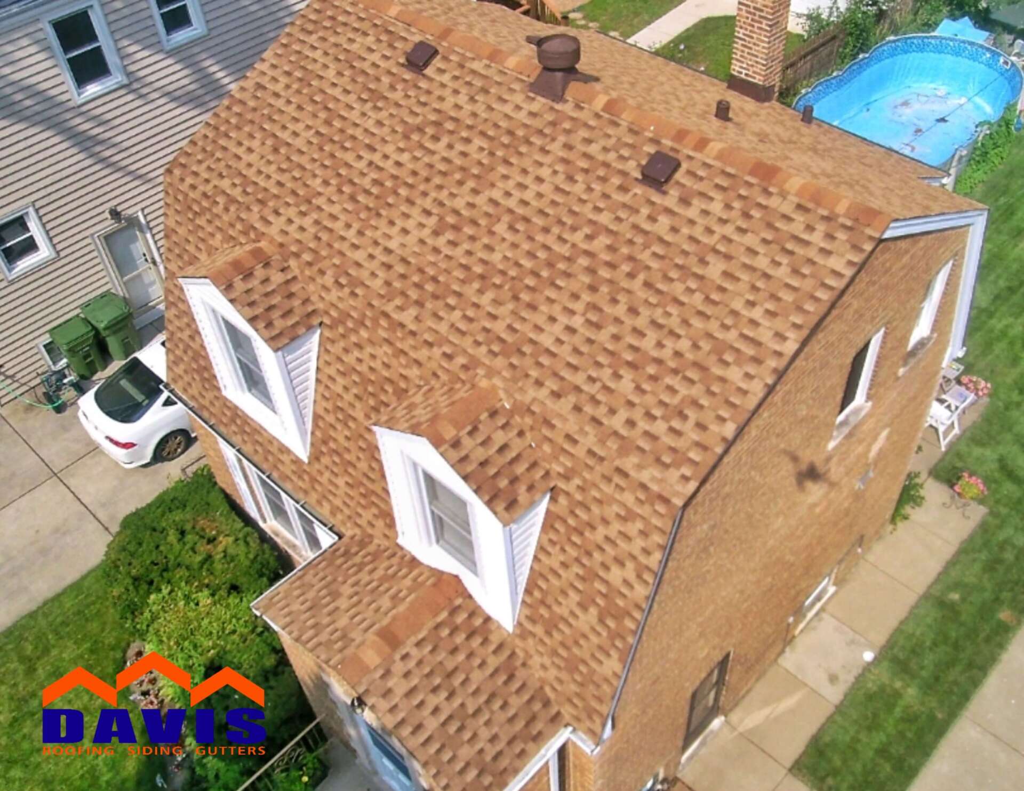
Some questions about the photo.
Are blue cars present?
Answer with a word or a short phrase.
No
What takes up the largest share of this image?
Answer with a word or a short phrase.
buildings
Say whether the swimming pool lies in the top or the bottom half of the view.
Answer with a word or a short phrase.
top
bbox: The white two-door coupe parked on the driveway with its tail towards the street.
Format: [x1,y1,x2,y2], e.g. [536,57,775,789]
[71,337,198,475]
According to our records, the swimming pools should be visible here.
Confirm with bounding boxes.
[780,28,1024,198]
